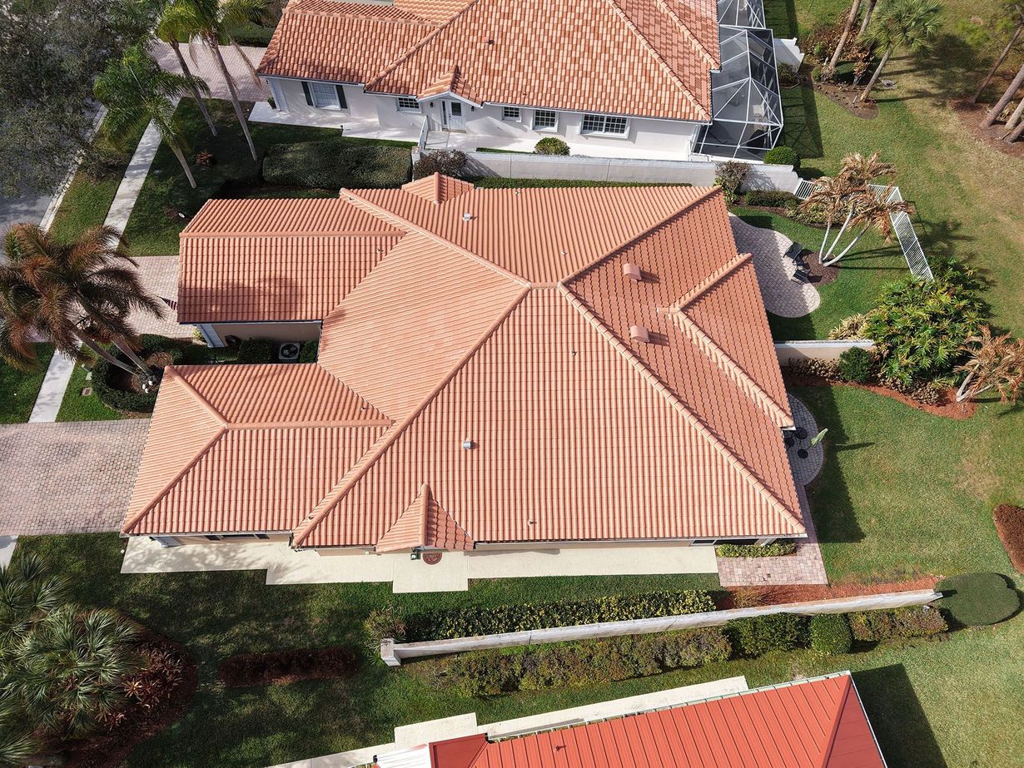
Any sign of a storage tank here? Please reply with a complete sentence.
No, there isn't any storage tank down there.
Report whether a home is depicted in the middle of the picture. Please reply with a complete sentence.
Yes, there is a home in the middle of the picture.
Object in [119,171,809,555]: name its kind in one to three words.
house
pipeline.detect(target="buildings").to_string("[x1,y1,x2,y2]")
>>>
[330,671,887,768]
[119,171,809,555]
[254,0,723,153]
